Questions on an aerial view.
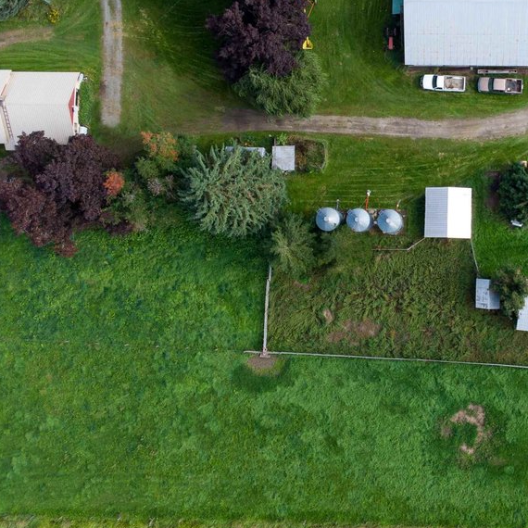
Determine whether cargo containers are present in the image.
No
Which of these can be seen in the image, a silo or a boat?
silo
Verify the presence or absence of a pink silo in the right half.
No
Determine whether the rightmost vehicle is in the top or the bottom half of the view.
top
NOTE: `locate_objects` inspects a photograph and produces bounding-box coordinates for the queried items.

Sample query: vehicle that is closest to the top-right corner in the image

[477,75,523,95]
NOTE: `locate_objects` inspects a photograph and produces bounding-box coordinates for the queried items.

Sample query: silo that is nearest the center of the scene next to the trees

[316,207,344,232]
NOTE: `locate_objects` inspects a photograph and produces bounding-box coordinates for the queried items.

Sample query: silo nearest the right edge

[377,208,403,233]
